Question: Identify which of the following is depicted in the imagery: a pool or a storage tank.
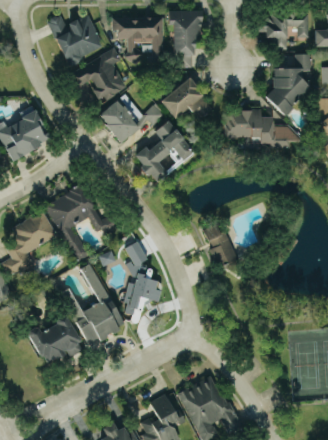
pool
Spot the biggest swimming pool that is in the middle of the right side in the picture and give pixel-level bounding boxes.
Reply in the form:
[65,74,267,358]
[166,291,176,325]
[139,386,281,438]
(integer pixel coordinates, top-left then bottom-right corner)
[228,202,267,249]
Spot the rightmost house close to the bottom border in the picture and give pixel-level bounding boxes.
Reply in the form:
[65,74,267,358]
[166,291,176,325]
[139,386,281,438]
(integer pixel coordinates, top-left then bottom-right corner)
[175,374,241,440]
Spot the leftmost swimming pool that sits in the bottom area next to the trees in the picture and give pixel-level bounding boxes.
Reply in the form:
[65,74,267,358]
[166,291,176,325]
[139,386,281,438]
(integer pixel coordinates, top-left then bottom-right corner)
[38,254,63,277]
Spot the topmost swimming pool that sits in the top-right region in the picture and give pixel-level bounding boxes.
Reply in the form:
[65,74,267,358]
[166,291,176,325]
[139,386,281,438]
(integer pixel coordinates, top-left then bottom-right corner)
[288,107,306,131]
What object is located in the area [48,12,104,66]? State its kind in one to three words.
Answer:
house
